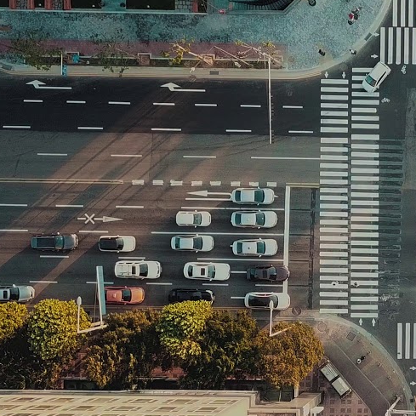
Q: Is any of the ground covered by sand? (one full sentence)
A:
No, sand can't be seen anywhere here.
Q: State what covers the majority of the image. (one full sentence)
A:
The scene is dominated by paved ground.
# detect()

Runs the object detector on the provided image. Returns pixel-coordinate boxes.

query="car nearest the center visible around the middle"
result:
[176,209,214,228]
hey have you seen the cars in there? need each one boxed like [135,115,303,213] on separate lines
[115,260,164,280]
[176,209,214,228]
[231,186,278,205]
[232,238,278,257]
[30,232,81,251]
[168,287,216,305]
[363,59,392,94]
[106,285,148,306]
[244,290,292,311]
[99,234,138,253]
[231,210,279,228]
[184,262,232,282]
[247,264,290,283]
[171,233,216,252]
[0,284,38,303]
